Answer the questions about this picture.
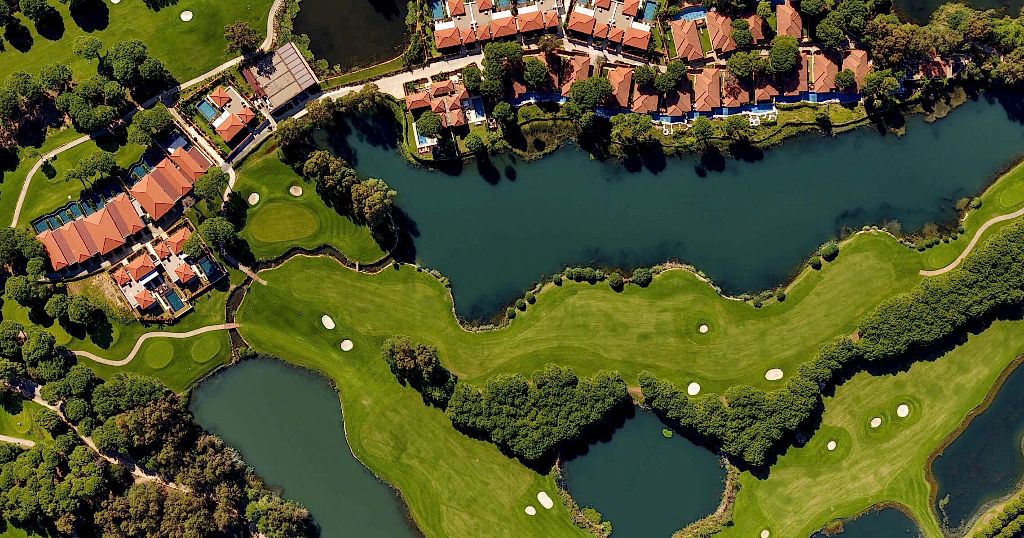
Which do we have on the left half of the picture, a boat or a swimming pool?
swimming pool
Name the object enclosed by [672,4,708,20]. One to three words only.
swimming pool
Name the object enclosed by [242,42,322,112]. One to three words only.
building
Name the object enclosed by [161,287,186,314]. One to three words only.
swimming pool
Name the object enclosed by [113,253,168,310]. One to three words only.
house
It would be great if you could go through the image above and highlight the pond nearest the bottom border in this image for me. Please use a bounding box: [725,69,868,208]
[811,505,924,538]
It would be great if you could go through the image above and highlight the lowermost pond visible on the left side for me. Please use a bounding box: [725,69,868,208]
[191,357,426,538]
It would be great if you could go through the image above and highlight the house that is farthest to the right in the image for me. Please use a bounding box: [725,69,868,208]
[904,60,953,81]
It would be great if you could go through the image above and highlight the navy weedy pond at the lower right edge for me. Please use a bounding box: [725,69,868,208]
[932,364,1024,533]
